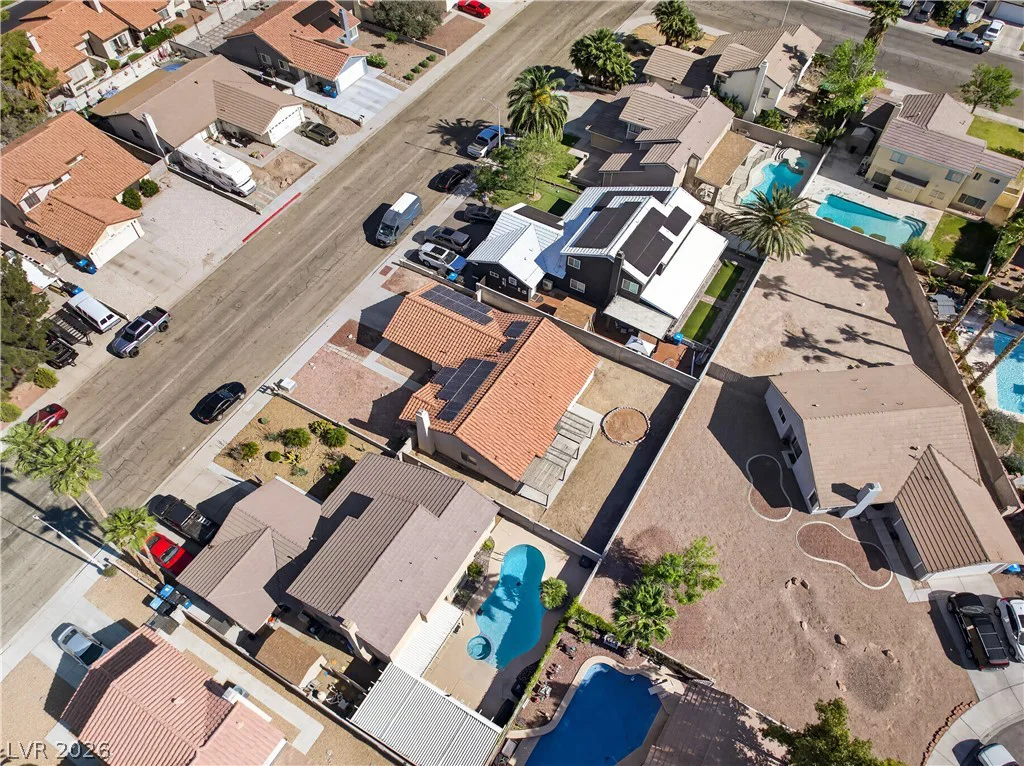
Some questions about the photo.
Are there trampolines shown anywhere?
No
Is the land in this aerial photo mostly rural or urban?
urban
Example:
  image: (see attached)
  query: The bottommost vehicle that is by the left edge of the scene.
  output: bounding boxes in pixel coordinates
[47,621,111,675]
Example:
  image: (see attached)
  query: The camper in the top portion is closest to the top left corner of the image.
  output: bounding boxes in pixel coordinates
[175,134,262,198]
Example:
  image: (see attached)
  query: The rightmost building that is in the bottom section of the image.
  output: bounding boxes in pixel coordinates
[765,365,1024,585]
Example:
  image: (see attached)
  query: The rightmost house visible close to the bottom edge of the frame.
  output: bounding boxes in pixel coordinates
[649,677,784,766]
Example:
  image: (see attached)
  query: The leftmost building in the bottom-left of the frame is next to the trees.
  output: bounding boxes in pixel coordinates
[58,622,288,766]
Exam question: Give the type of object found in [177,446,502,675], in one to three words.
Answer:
house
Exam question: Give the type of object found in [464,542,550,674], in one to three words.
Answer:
swimming pool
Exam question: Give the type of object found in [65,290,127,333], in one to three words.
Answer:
van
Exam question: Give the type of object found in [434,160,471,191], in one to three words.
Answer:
car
